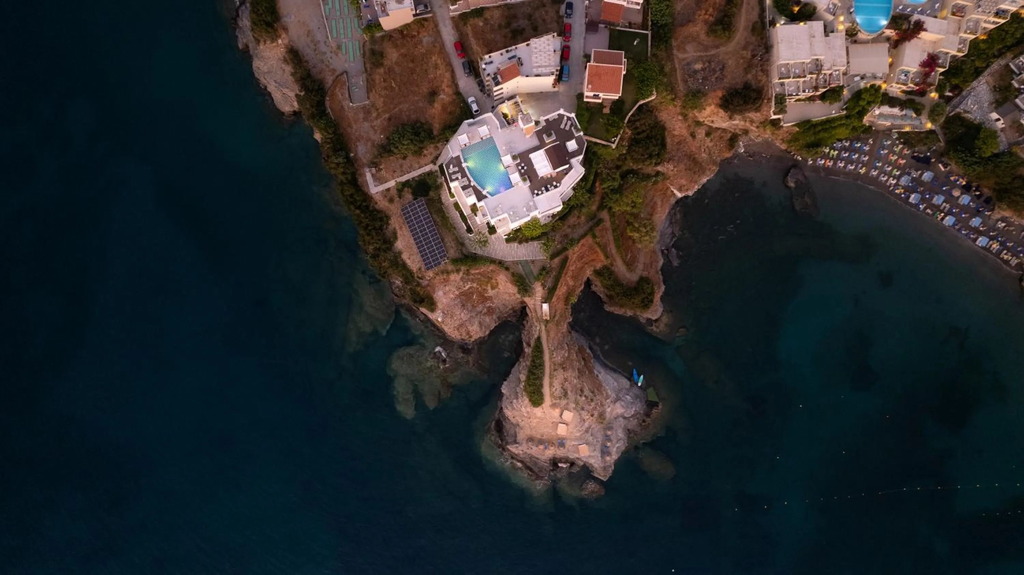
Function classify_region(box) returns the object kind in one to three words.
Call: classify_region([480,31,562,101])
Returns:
house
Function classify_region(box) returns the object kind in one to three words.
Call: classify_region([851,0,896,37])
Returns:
swimming pool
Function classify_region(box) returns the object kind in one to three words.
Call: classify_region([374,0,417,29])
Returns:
house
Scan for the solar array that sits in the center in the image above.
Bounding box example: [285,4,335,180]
[401,197,450,271]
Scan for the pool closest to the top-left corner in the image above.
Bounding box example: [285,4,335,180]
[461,136,513,199]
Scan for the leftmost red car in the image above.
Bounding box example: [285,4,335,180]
[453,39,466,59]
